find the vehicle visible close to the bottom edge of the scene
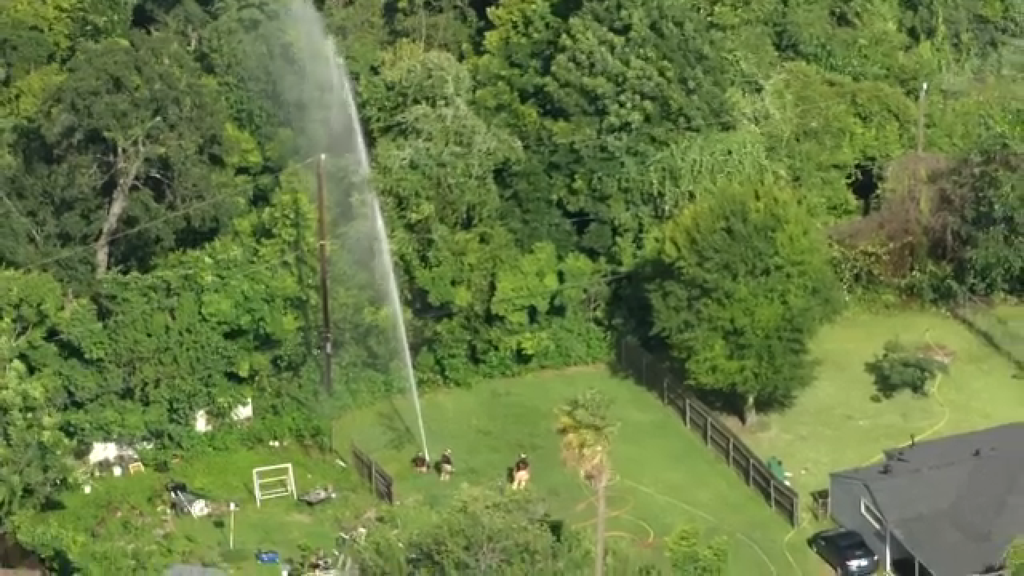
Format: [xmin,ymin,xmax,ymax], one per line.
[808,527,879,576]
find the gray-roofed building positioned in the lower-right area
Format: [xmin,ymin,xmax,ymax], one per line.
[823,414,1024,576]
